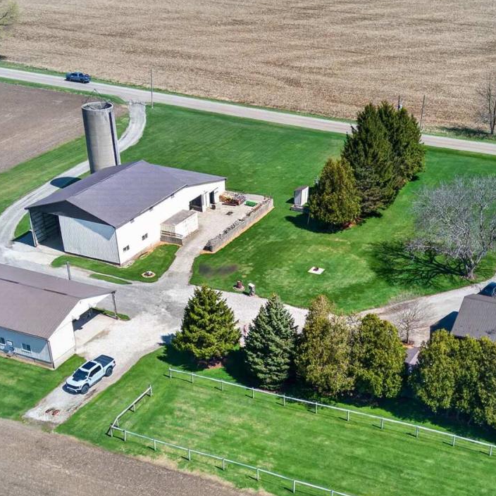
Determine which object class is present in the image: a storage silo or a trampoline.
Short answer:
storage silo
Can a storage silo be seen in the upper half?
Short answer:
Yes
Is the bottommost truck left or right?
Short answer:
left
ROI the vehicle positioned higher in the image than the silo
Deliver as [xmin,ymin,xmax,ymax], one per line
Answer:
[63,69,90,81]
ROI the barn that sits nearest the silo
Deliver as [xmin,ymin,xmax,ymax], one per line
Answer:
[25,159,228,265]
